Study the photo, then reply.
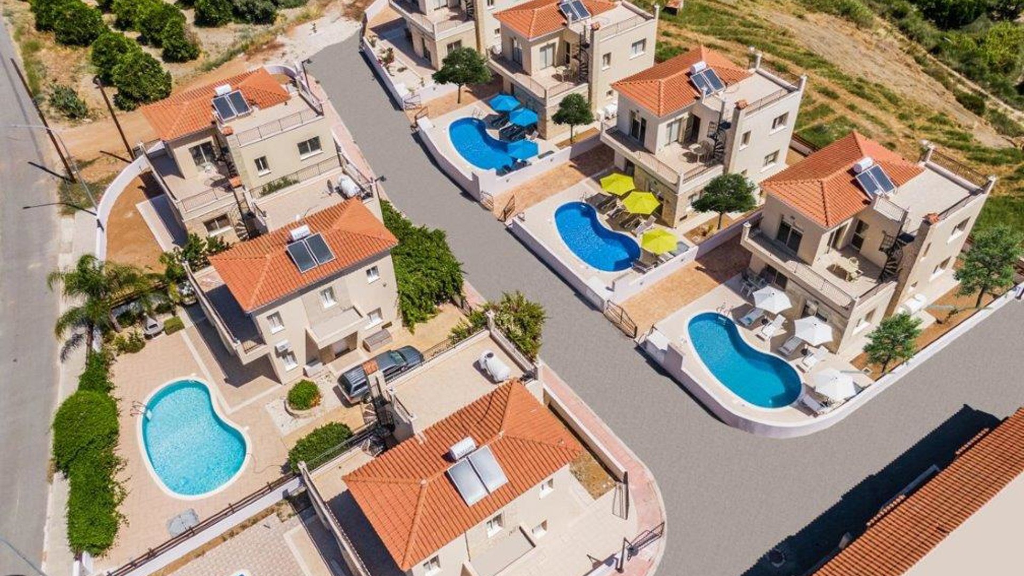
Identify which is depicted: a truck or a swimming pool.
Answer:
swimming pool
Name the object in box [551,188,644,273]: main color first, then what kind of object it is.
blue swimming pool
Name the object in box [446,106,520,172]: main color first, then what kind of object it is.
blue swimming pool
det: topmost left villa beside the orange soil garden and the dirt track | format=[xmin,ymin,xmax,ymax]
[138,65,335,240]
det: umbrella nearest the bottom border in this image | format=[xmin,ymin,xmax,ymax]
[809,371,858,417]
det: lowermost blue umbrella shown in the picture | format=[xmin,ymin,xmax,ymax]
[505,146,538,182]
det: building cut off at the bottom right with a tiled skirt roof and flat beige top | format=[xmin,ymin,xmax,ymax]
[797,399,1024,576]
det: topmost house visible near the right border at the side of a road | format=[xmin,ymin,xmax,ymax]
[738,129,1000,354]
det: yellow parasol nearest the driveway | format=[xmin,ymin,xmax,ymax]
[602,177,632,202]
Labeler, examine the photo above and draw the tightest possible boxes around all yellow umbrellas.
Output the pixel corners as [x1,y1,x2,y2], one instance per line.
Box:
[641,233,676,262]
[622,196,660,231]
[602,177,632,202]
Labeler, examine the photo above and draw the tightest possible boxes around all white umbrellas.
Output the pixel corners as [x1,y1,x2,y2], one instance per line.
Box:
[752,290,792,331]
[809,371,858,417]
[790,318,835,364]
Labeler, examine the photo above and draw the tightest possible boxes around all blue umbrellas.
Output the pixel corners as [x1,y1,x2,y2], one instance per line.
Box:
[505,146,538,182]
[490,99,518,123]
[510,113,539,147]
